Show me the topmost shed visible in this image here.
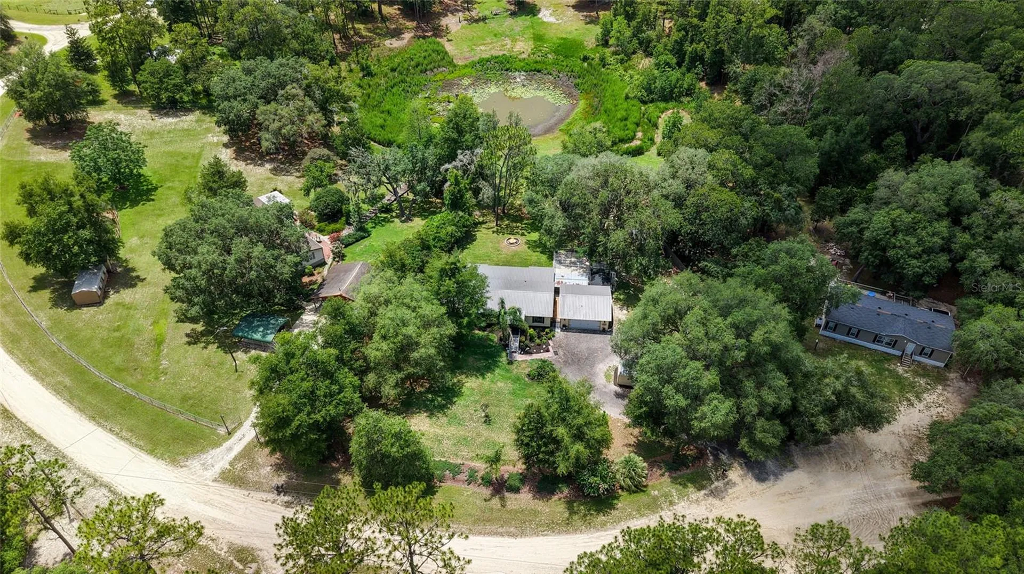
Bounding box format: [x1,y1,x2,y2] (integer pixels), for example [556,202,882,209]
[258,191,292,213]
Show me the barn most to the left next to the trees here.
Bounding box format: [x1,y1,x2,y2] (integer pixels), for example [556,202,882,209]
[69,258,109,306]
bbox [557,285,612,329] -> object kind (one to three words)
building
